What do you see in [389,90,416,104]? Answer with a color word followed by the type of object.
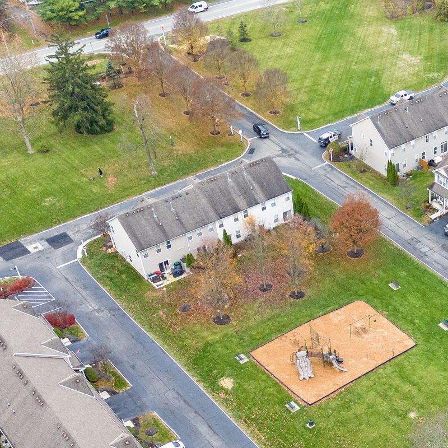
white vehicle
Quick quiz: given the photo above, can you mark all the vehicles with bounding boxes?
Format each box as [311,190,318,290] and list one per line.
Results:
[161,438,189,448]
[251,123,271,138]
[440,222,448,235]
[316,130,339,146]
[93,29,114,39]
[389,90,416,104]
[188,0,208,12]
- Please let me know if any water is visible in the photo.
No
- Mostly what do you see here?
grass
